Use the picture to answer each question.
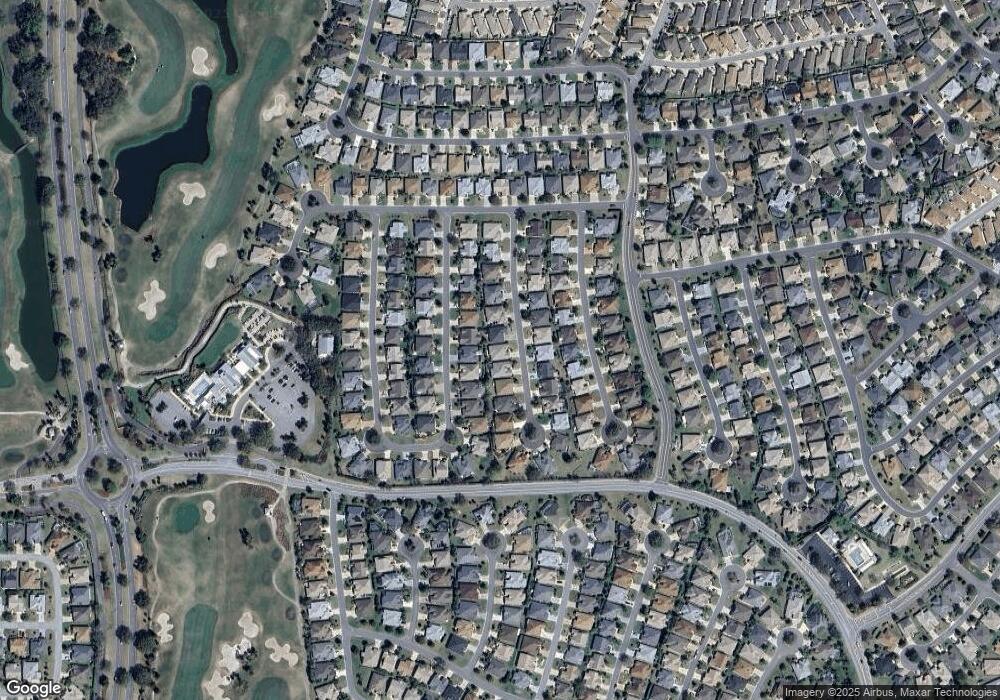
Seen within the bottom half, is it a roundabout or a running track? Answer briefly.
roundabout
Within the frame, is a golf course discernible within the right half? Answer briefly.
No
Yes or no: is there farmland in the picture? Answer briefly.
No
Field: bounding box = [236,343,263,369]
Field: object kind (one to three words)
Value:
building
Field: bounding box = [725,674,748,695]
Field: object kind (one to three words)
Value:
house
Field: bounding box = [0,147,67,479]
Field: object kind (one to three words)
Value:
golf course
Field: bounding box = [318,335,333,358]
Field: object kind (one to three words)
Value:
shed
